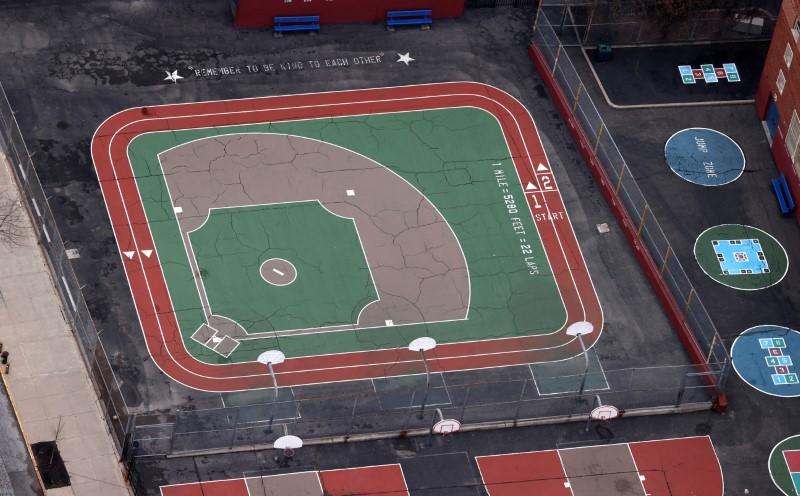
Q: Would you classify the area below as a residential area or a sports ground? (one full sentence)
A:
The picture captures a sports ground.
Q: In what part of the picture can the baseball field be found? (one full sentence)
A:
The baseball field appears toward the center of the photo.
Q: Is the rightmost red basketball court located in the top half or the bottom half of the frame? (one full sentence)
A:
The bottom half of the photo is where the rightmost red basketball court is.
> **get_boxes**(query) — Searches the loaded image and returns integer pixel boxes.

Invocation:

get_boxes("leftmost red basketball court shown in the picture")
[159,451,415,496]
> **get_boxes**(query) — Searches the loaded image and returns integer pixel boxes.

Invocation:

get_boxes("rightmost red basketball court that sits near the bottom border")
[474,434,726,496]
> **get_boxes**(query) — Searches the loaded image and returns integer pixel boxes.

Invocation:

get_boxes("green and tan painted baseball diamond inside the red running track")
[96,103,574,381]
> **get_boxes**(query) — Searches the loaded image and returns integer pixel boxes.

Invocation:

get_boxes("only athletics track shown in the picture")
[92,81,604,392]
